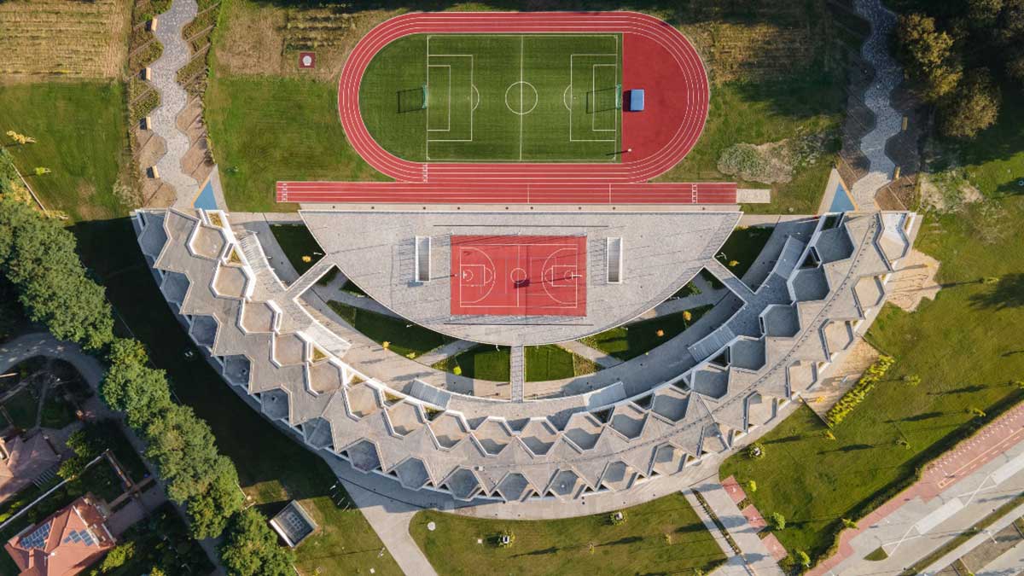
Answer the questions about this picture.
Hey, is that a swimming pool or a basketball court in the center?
basketball court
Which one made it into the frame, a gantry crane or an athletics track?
athletics track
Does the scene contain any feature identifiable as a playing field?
Yes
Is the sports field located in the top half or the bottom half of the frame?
top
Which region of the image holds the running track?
top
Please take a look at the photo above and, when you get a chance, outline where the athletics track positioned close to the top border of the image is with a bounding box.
[277,12,737,204]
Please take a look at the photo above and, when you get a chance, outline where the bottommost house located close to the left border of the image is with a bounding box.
[2,485,132,576]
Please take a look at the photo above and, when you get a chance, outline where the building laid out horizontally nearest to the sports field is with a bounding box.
[300,210,742,346]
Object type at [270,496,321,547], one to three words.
building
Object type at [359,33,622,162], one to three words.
sports field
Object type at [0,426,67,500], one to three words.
house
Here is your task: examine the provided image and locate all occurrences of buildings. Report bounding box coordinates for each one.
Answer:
[270,496,321,547]
[0,426,67,500]
[300,210,742,346]
[136,208,913,501]
[2,485,132,576]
